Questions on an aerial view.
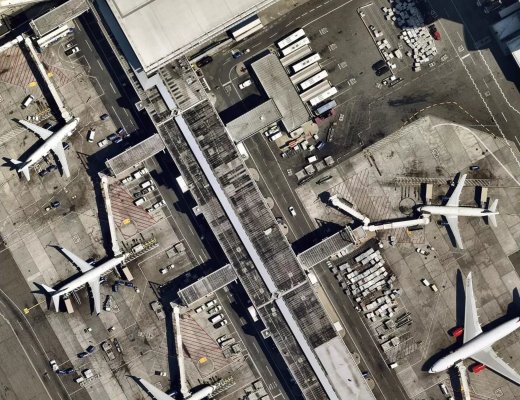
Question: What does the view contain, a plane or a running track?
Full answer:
The image shows a plane.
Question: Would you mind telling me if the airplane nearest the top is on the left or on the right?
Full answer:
You can find the airplane nearest the top on the left side of the picture.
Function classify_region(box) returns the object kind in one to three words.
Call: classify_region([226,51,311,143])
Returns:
building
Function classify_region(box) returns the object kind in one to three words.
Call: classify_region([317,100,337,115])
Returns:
vehicle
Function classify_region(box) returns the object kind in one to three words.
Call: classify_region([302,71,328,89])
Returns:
vehicle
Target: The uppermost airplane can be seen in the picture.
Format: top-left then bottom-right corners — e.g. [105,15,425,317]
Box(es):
[11,118,79,180]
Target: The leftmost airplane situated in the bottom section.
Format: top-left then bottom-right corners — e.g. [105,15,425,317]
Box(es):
[48,249,131,316]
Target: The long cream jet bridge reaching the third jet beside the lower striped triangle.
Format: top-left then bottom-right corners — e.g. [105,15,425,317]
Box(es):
[173,305,191,398]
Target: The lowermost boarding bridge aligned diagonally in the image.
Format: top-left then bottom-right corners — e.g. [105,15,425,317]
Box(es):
[329,195,370,226]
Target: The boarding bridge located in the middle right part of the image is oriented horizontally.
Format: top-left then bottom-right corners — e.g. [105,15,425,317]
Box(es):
[360,213,431,232]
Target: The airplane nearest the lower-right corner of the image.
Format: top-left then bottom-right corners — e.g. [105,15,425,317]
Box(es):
[430,271,520,380]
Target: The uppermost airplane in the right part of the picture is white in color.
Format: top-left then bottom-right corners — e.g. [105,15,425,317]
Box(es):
[419,173,500,249]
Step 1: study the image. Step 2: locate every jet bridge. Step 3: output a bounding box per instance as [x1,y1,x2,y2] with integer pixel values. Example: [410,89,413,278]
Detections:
[360,213,431,232]
[329,195,370,226]
[23,36,75,119]
[457,359,472,400]
[0,34,24,52]
[99,175,121,258]
[173,305,191,398]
